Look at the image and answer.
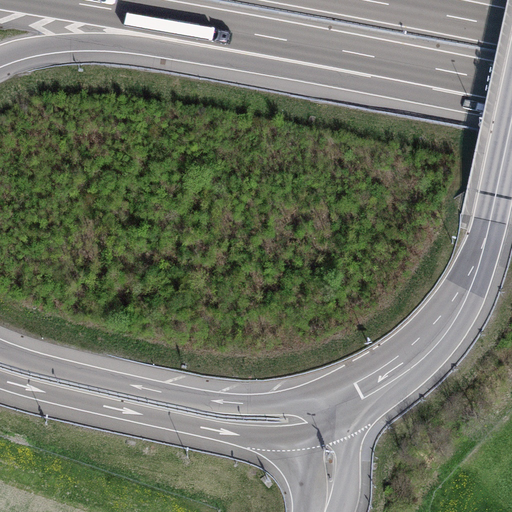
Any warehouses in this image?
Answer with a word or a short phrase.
No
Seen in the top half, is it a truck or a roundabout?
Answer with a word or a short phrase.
truck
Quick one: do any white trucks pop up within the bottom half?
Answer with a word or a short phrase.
No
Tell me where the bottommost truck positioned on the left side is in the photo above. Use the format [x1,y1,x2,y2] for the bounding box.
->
[124,12,232,46]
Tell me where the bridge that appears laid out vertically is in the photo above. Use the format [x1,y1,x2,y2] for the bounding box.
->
[454,0,512,225]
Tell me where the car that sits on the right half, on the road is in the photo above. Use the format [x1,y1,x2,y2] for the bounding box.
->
[462,100,486,114]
